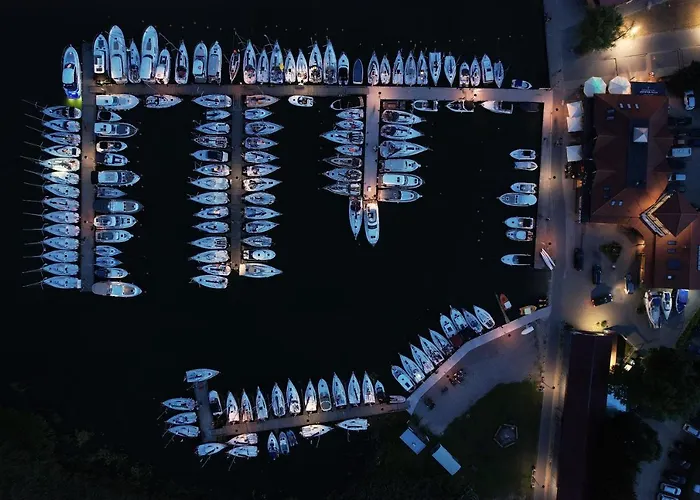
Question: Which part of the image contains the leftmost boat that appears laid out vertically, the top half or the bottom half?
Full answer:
The top half of the photo is where the leftmost boat that appears laid out vertically is.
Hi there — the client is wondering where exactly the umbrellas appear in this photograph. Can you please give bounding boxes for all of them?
[567,116,582,132]
[583,76,606,98]
[567,100,583,116]
[566,146,582,161]
[608,75,630,94]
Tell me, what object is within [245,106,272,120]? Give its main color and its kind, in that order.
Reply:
blue boat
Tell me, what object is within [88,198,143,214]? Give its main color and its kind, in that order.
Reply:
blue boat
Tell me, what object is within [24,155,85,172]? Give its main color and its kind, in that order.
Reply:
white boat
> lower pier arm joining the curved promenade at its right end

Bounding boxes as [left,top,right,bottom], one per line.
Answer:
[211,400,403,438]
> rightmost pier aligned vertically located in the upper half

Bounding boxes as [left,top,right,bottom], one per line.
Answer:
[364,98,379,200]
